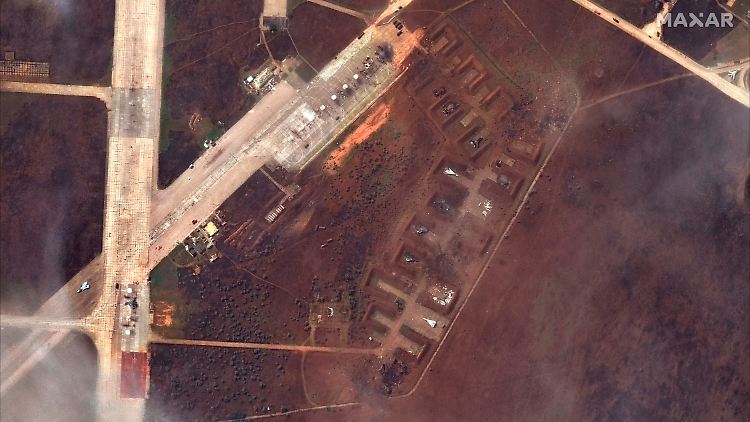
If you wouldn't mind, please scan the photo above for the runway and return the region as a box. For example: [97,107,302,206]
[96,0,166,422]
